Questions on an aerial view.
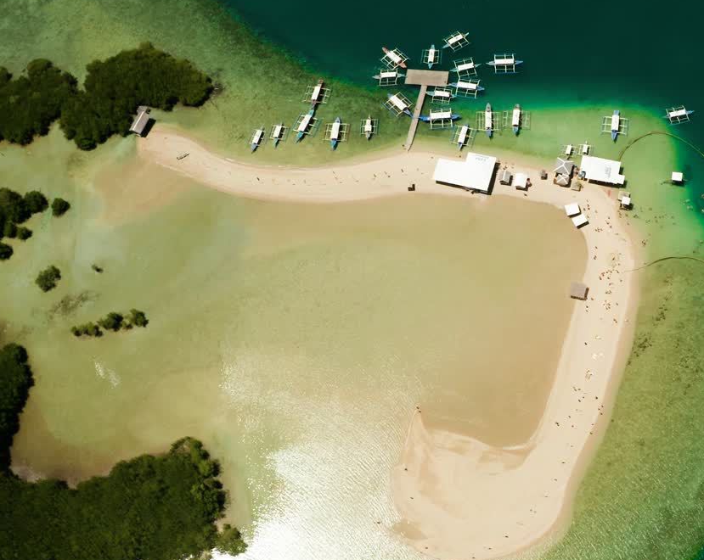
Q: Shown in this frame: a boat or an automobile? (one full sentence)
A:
I can see a boat in this picture.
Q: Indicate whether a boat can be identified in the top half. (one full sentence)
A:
Yes, you'll find a boat in the top half.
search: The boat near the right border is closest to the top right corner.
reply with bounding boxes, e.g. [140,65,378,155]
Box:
[663,104,693,127]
